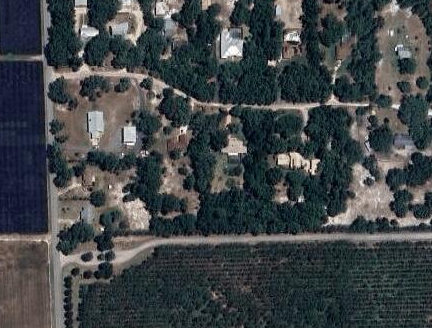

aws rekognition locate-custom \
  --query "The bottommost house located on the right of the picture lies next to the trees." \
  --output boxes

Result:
[267,152,321,176]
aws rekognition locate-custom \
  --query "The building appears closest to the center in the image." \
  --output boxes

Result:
[220,135,247,164]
